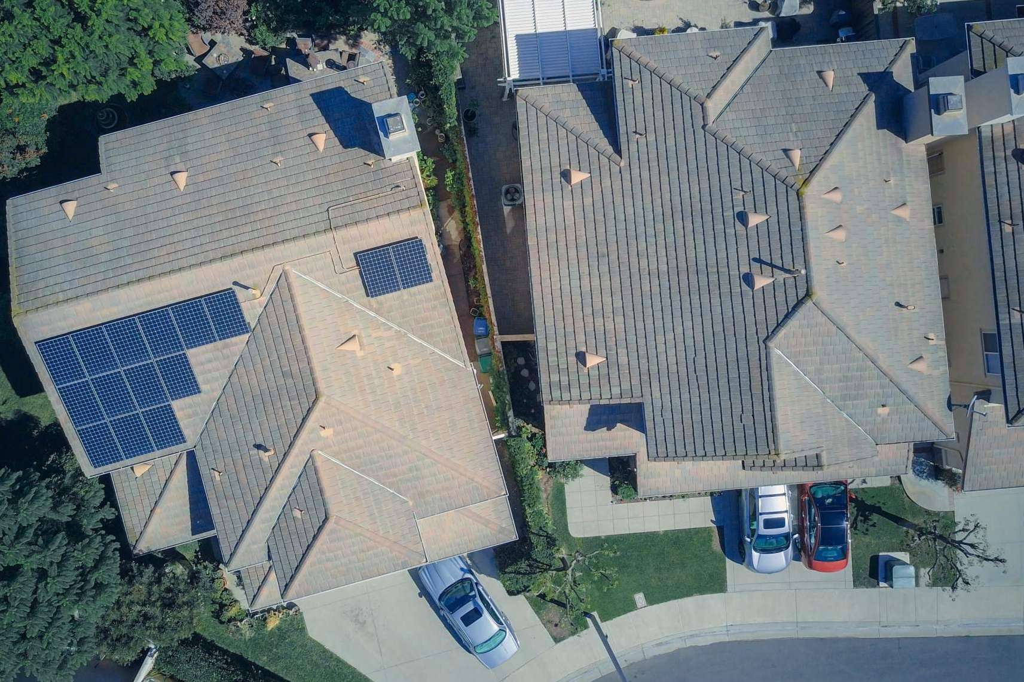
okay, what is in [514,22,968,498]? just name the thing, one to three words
house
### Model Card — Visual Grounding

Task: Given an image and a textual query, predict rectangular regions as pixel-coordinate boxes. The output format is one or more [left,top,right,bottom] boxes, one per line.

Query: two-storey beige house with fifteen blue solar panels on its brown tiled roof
[4,59,520,613]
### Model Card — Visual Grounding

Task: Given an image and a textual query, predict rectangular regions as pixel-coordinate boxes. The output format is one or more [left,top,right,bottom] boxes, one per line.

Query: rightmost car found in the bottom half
[796,480,853,573]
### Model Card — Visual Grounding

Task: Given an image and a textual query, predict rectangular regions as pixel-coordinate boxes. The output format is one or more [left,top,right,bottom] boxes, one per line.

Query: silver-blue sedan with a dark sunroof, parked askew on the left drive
[426,555,516,665]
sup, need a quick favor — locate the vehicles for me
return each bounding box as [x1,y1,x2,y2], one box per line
[426,555,516,665]
[796,480,853,573]
[740,485,798,575]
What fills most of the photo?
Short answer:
buildings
